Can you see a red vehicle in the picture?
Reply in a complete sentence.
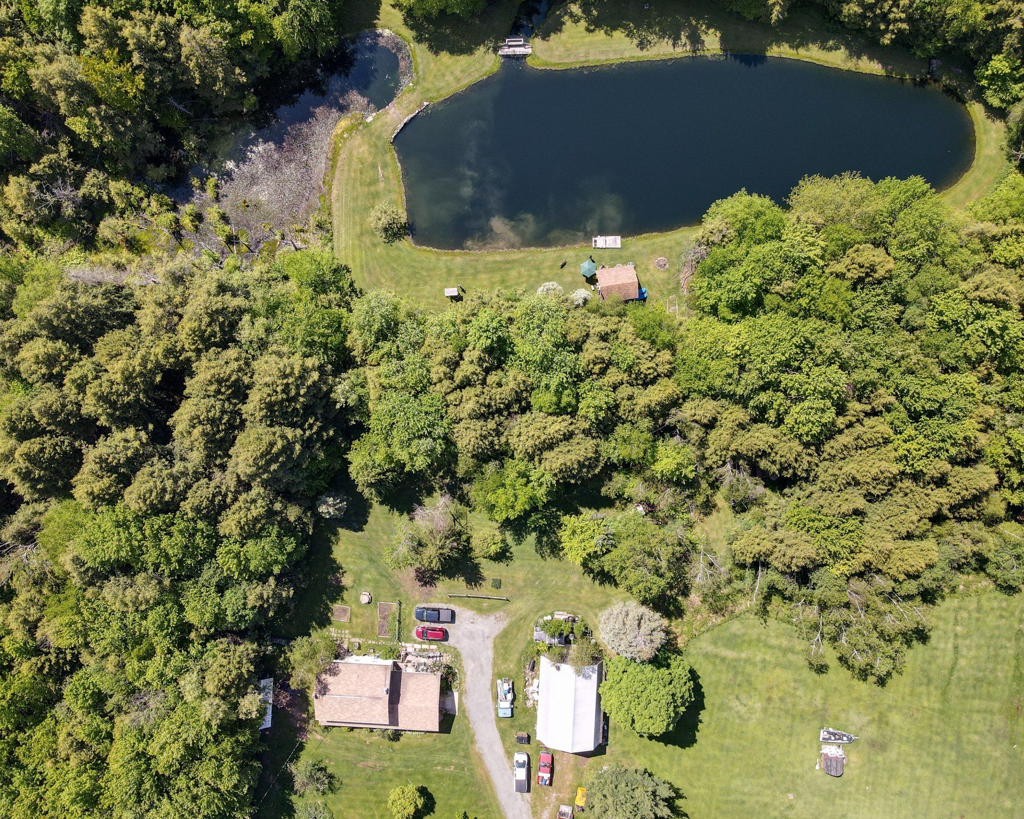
Yes, there's a red vehicle down there.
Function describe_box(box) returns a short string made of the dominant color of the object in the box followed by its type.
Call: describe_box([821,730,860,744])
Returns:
white boat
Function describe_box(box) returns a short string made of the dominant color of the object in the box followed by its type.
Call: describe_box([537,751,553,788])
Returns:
red vehicle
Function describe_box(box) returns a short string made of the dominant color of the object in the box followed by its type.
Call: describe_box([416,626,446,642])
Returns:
red car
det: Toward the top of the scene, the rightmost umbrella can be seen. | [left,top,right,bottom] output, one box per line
[581,260,596,276]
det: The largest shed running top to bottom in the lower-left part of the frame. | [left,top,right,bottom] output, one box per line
[258,675,278,727]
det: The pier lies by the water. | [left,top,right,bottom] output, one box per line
[592,236,621,248]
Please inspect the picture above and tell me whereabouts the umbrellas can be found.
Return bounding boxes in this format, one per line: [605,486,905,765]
[413,660,428,674]
[581,260,596,276]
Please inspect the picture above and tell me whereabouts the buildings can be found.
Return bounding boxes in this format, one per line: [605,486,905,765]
[258,675,278,727]
[307,652,441,732]
[596,265,639,303]
[536,650,605,754]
